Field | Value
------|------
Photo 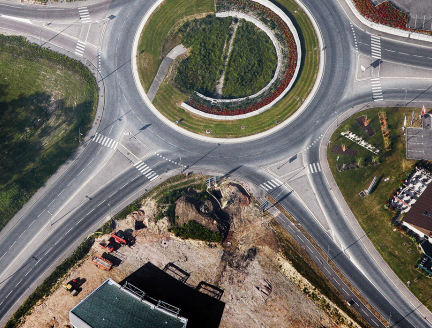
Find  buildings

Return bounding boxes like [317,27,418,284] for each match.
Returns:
[402,182,432,240]
[69,279,187,328]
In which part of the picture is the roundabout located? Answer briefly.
top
